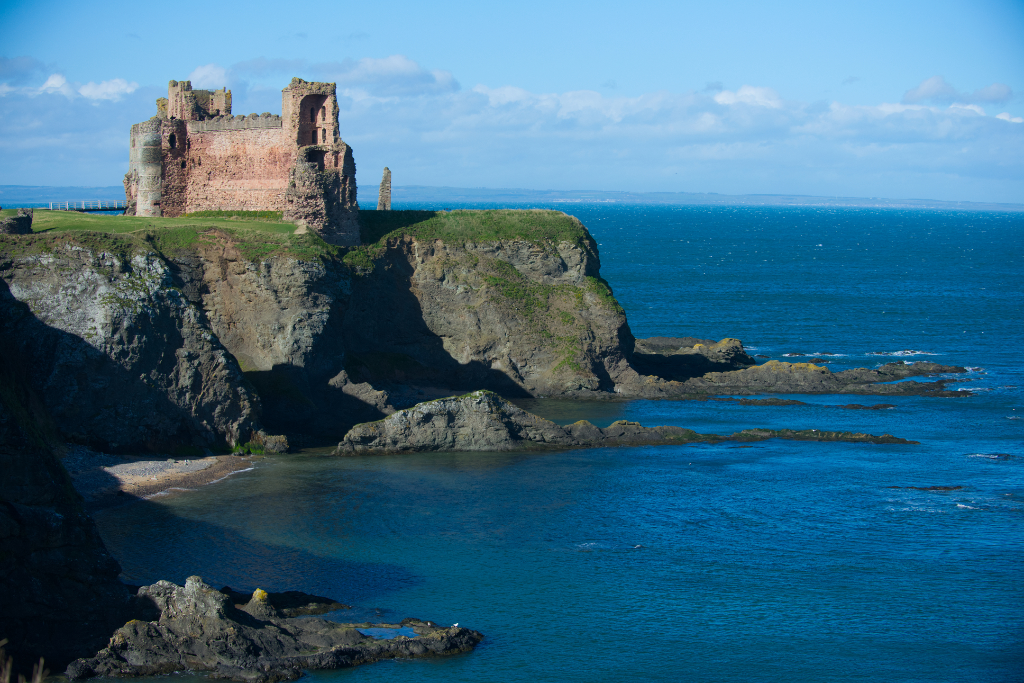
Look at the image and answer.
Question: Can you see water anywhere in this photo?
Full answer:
Yes, water shows up in the scene.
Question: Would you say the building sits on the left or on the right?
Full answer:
The building is on the left side of the image.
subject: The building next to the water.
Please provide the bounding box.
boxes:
[124,77,366,248]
